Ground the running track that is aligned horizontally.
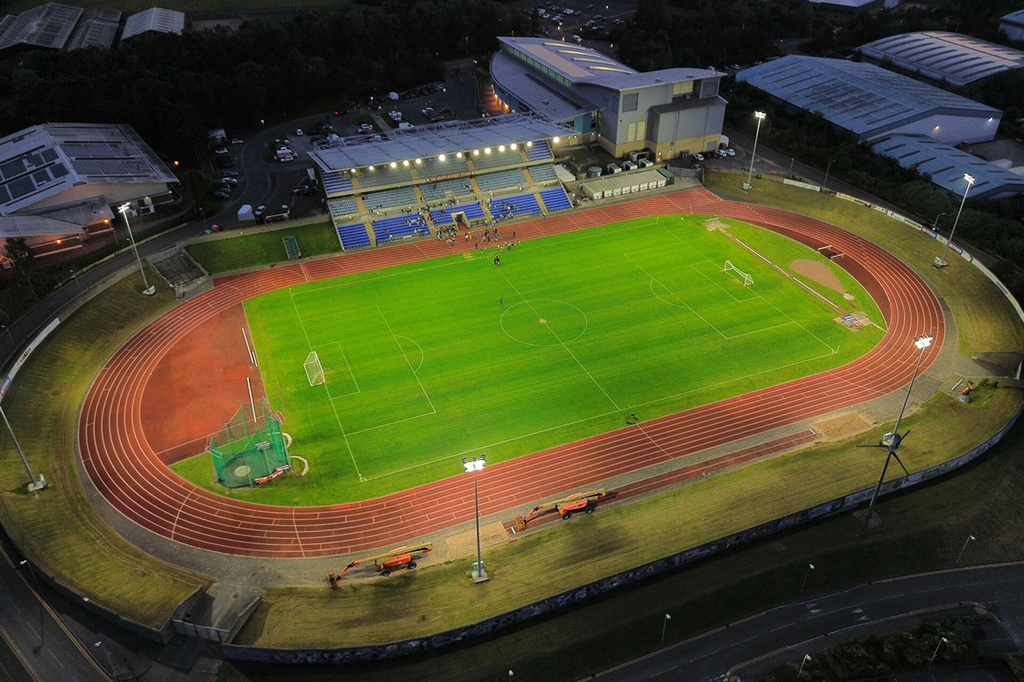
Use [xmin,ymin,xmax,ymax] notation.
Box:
[79,199,945,555]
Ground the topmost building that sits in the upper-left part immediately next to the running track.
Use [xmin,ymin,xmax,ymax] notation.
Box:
[0,121,184,222]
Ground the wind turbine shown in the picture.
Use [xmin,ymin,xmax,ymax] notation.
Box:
[861,431,909,518]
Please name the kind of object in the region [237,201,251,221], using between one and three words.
vehicle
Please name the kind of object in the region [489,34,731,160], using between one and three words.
building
